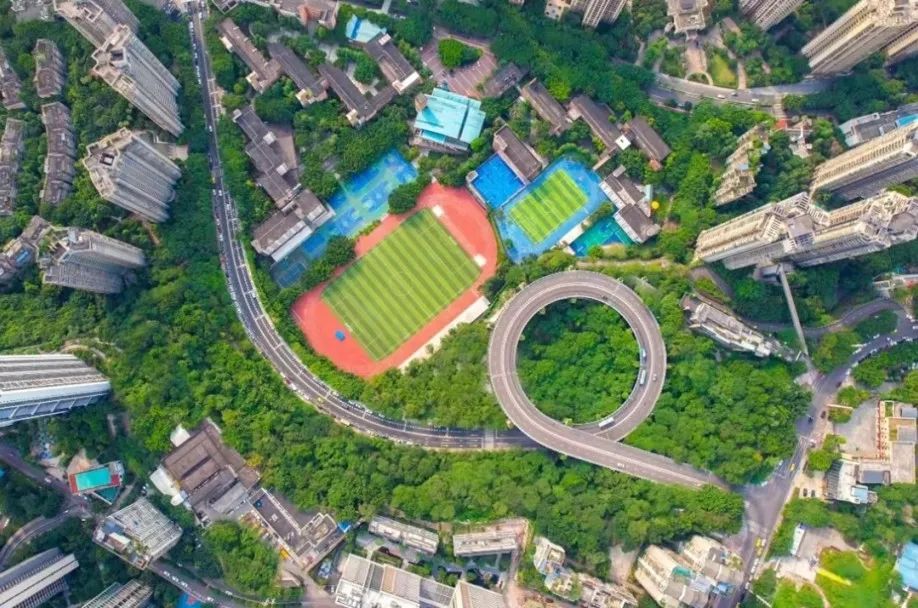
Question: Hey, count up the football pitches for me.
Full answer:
In total, there are 2 football pitches in the scene.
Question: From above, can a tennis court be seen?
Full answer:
Yes, the frame does contain a tennis court.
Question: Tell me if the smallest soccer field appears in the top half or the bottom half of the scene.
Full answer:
You can find the smallest soccer field in the top half.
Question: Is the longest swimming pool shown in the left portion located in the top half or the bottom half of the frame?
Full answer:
The longest swimming pool shown in the left portion sits in the bottom half of the picture.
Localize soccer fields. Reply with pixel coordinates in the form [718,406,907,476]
[321,208,481,360]
[507,168,588,245]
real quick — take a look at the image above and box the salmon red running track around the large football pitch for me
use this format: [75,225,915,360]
[292,181,497,377]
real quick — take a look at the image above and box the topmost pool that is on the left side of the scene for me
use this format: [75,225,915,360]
[76,468,111,490]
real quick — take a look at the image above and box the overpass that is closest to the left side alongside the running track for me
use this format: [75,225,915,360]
[488,271,759,511]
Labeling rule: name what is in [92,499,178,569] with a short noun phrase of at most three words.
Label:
building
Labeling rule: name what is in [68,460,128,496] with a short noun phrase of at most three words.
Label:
building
